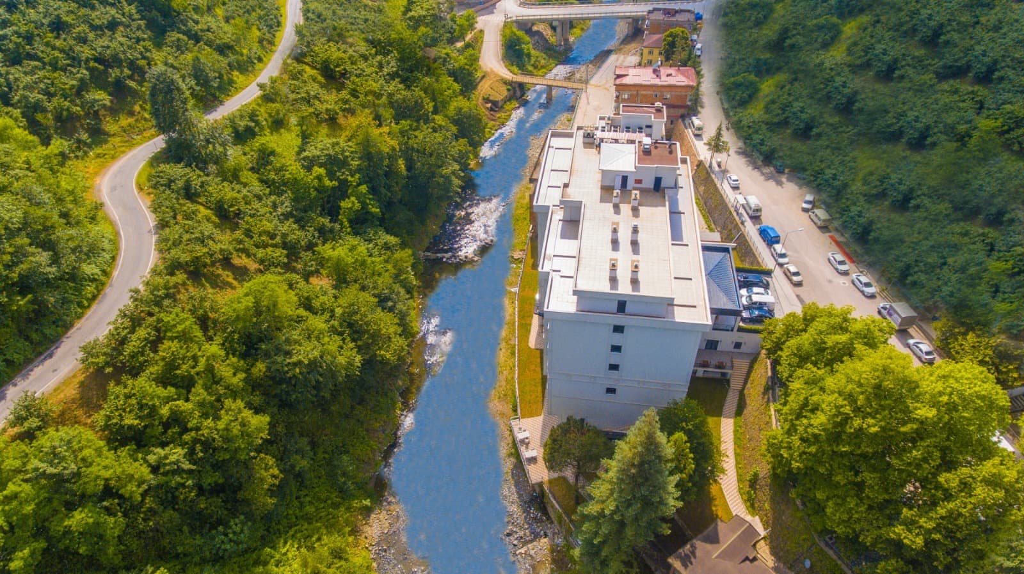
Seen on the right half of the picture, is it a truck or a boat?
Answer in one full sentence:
Looking on the right half of the picture, you will find a truck.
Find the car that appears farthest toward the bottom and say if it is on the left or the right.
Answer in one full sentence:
You can find the car that appears farthest toward the bottom on the right side of the picture.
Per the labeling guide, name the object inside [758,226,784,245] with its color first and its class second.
blue vehicle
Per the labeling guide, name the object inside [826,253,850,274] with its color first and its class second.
white car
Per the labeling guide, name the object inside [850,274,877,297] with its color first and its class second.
white car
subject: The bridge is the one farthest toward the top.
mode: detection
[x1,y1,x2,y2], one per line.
[505,0,704,41]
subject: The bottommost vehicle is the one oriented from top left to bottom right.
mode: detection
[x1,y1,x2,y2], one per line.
[903,338,938,365]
